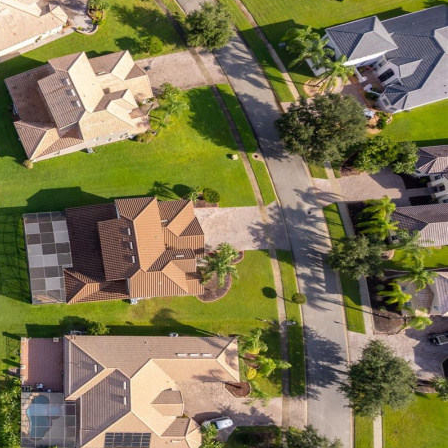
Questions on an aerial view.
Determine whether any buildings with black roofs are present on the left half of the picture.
No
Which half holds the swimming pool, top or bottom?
bottom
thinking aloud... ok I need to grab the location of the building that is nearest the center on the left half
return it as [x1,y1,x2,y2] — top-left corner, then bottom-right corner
[64,197,206,304]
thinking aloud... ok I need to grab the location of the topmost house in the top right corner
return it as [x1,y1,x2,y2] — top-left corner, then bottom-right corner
[314,5,448,122]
